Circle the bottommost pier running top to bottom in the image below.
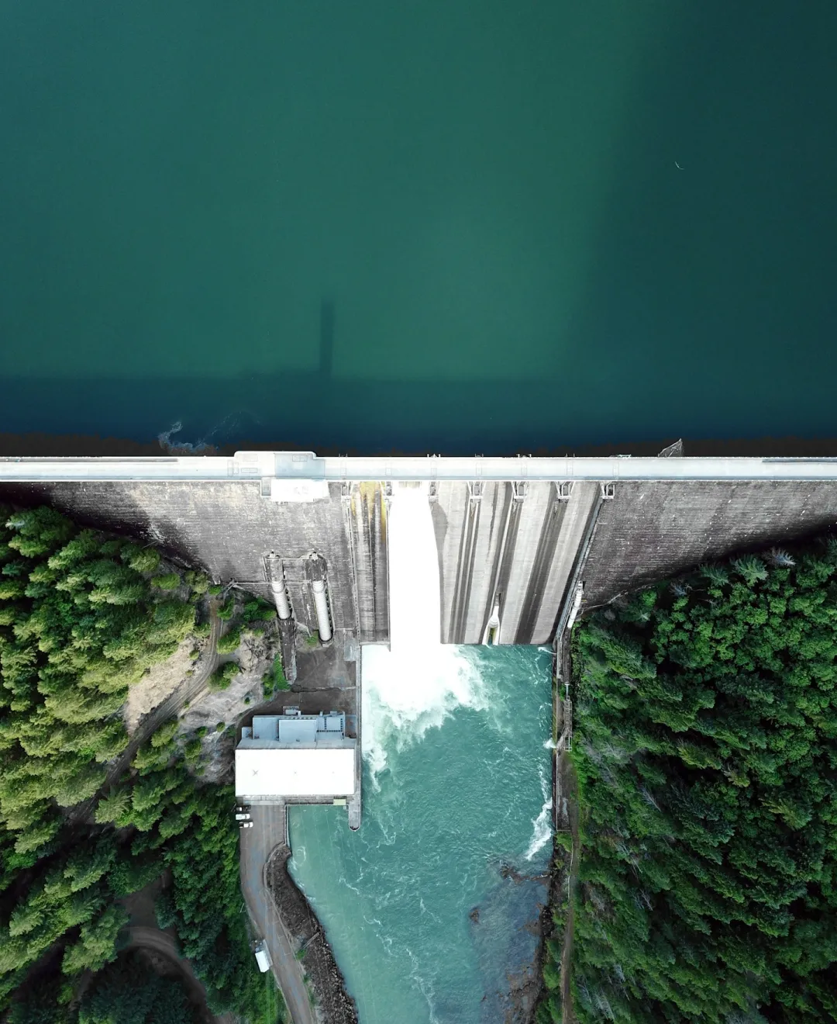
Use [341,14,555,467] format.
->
[348,797,362,830]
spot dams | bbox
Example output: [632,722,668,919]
[0,451,837,653]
